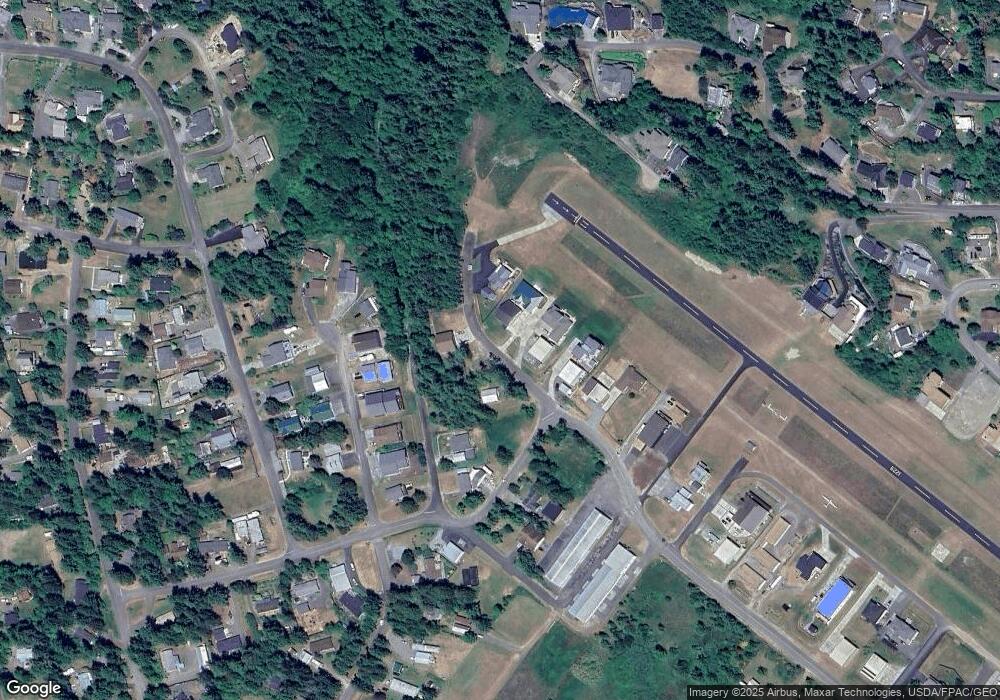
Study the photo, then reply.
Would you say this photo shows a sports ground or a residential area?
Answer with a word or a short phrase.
residential area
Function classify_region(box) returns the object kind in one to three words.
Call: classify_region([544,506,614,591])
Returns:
building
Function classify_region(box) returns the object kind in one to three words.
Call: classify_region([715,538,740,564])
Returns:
hangar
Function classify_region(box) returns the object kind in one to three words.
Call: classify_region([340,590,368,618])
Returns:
house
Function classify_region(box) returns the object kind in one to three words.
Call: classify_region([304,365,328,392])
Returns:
shed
